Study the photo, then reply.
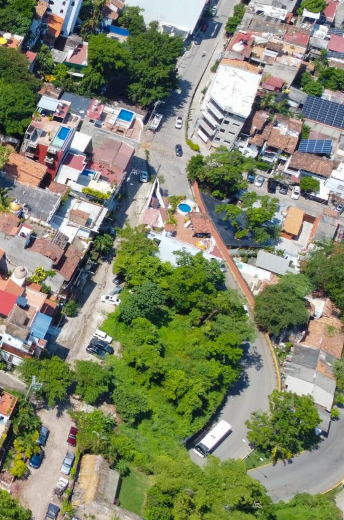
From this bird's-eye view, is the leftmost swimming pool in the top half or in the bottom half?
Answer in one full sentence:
The leftmost swimming pool is in the top half of the image.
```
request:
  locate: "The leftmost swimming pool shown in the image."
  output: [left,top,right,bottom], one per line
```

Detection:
[52,126,72,149]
